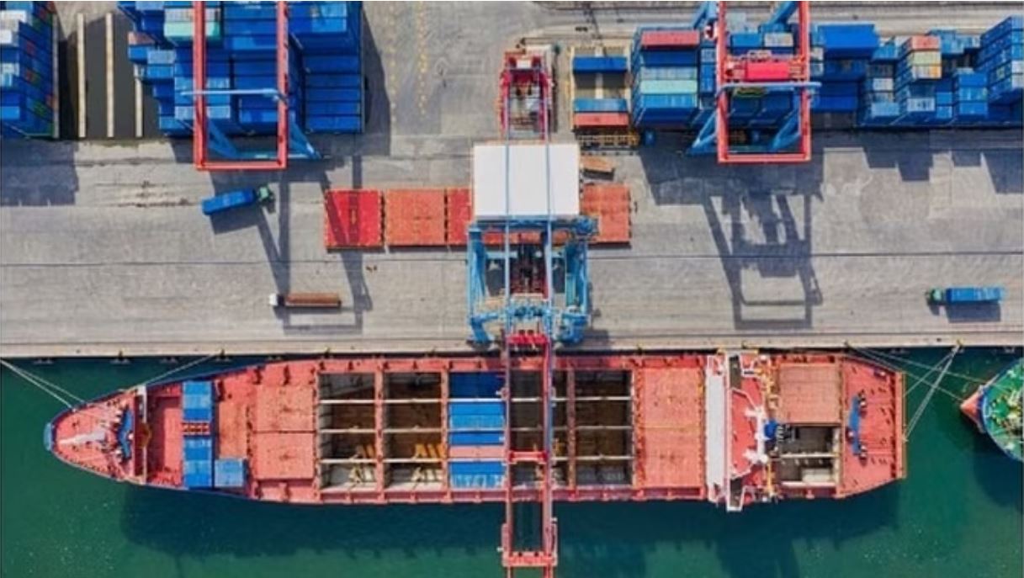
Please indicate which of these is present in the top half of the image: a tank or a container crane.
container crane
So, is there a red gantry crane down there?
Yes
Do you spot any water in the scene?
Yes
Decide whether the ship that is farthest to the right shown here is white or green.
green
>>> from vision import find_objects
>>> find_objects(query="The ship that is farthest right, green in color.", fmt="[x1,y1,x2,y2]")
[964,357,1024,469]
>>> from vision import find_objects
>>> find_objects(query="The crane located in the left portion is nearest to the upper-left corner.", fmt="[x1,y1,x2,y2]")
[183,0,330,173]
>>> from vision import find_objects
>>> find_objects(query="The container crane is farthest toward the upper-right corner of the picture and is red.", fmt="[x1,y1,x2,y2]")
[678,0,821,167]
